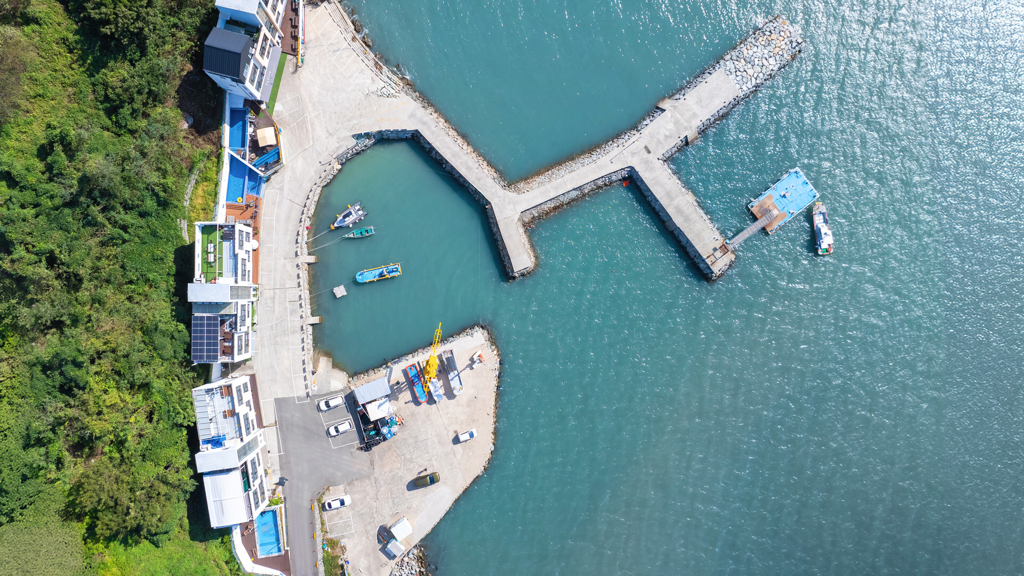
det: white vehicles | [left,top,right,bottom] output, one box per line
[324,495,352,511]
[317,393,345,412]
[326,418,354,437]
[458,428,478,442]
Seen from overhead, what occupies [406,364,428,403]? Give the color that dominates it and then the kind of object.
blue boat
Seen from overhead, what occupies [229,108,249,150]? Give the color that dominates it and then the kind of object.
blue swimming pool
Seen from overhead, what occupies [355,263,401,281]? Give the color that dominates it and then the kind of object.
blue boat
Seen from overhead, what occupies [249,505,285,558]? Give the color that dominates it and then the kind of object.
blue swimming pool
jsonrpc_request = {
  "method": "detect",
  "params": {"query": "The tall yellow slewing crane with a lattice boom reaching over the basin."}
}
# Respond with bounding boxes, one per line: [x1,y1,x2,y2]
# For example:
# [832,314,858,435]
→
[422,323,444,392]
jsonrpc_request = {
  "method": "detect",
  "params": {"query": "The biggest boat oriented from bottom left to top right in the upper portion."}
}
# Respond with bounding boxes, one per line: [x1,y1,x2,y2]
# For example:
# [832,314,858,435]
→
[331,198,372,229]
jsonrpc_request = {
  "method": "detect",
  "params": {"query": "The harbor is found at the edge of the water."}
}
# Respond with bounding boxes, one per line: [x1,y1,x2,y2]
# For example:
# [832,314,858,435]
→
[297,130,501,576]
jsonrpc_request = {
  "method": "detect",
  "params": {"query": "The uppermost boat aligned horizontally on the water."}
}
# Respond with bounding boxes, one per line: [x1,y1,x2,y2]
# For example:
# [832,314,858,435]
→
[343,225,376,238]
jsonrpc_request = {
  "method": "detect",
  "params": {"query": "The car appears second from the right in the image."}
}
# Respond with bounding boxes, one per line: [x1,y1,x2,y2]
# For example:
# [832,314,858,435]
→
[414,472,440,488]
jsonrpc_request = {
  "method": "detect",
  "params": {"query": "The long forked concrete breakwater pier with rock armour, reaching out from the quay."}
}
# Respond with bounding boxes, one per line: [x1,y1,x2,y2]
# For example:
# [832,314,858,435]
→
[401,14,806,283]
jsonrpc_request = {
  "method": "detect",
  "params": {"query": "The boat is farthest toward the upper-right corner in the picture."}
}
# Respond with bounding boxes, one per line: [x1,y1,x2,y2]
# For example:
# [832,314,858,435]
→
[810,203,833,254]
